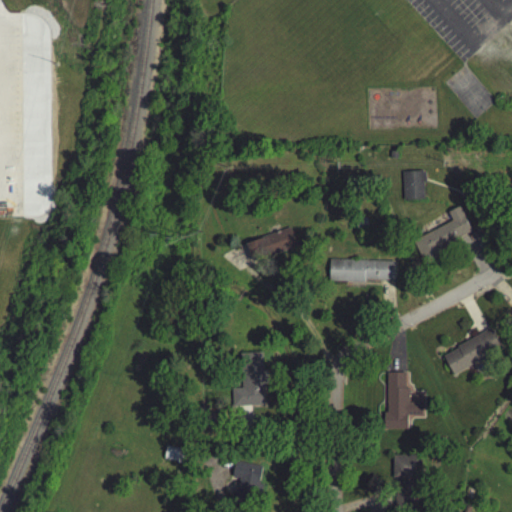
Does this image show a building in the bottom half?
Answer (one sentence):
Yes, I can see a building in the bottom half.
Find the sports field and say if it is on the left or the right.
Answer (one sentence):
You can find the sports field on the right side of the picture.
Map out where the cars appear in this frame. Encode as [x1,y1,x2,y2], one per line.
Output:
[394,358,400,370]
[224,462,234,469]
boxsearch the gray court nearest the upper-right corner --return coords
[446,66,493,117]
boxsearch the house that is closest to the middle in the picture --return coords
[246,228,298,260]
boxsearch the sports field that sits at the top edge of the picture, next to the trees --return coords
[224,0,464,140]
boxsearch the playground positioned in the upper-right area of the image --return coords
[368,88,438,128]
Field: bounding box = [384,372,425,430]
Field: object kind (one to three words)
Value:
house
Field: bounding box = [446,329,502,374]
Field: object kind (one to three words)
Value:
house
